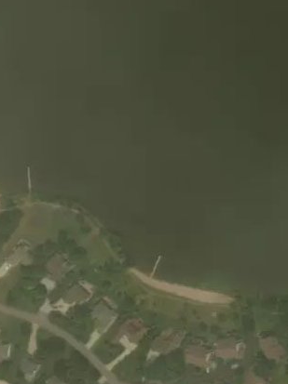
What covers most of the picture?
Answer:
water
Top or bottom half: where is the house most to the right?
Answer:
bottom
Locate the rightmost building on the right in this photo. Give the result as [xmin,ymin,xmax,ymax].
[255,333,286,361]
